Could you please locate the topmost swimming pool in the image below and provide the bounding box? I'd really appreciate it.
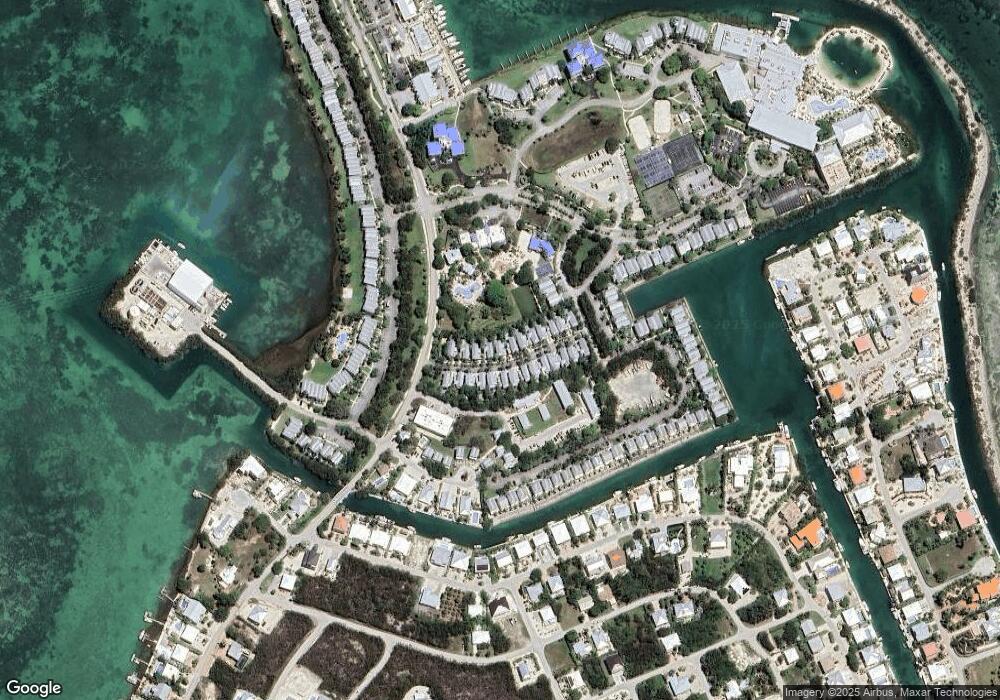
[810,96,851,115]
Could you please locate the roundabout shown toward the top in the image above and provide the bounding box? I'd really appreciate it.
[750,142,785,177]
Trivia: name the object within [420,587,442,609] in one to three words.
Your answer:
house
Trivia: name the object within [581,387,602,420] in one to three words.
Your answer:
building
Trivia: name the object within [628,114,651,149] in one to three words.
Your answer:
sports court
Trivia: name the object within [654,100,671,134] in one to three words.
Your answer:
sports court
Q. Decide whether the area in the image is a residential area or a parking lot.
residential area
